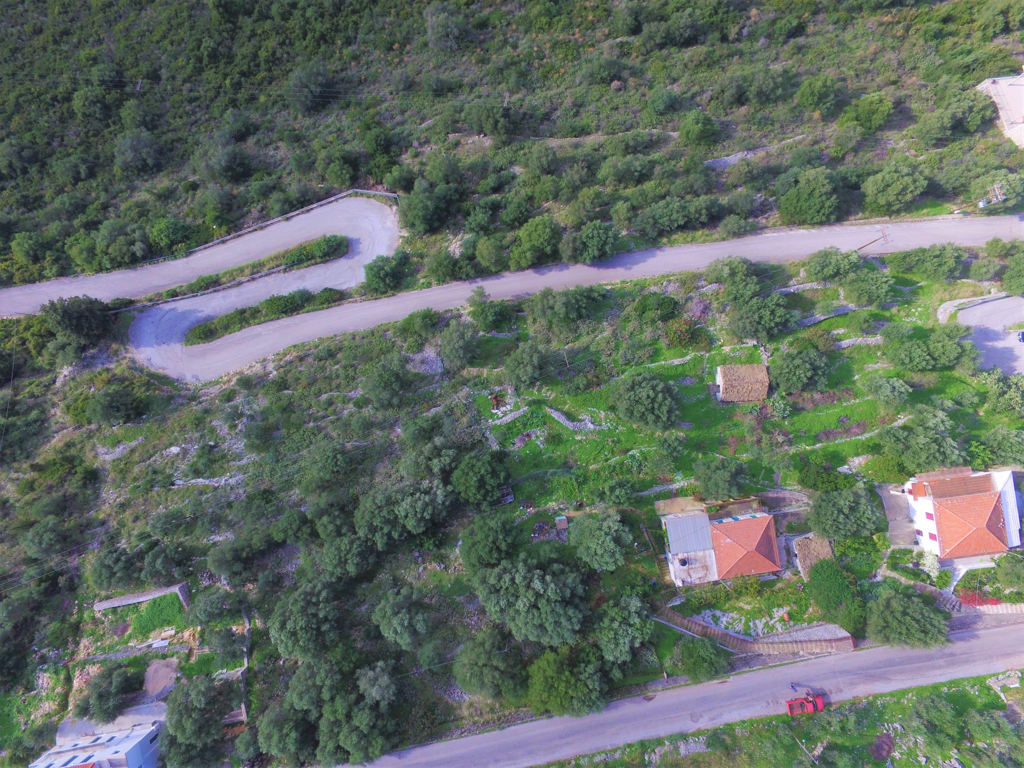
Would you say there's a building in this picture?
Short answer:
Yes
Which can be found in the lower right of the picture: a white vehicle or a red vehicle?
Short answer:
red vehicle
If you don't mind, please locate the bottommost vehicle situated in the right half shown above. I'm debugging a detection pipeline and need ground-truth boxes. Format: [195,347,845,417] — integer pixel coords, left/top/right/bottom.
[784,691,824,716]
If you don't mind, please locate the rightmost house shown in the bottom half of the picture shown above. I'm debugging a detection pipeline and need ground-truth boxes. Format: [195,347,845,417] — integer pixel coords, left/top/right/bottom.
[902,467,1021,562]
